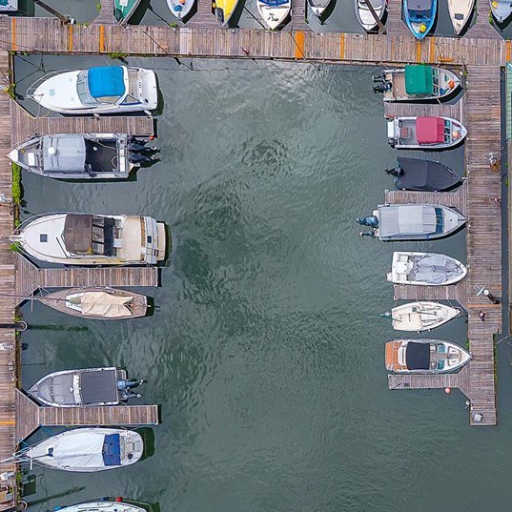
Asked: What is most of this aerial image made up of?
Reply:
water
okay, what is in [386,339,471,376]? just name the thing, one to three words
boat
